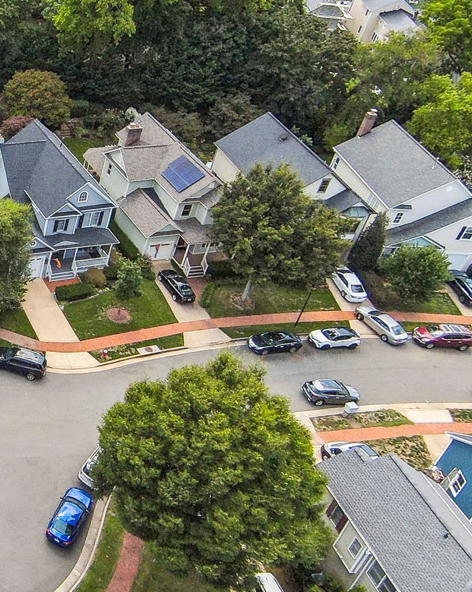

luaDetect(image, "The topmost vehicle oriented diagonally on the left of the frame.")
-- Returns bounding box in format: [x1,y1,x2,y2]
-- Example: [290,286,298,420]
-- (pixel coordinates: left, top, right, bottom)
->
[153,266,197,300]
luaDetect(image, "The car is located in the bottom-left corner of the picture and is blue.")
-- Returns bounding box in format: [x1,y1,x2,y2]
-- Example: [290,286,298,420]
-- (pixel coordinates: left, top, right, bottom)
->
[50,481,94,545]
